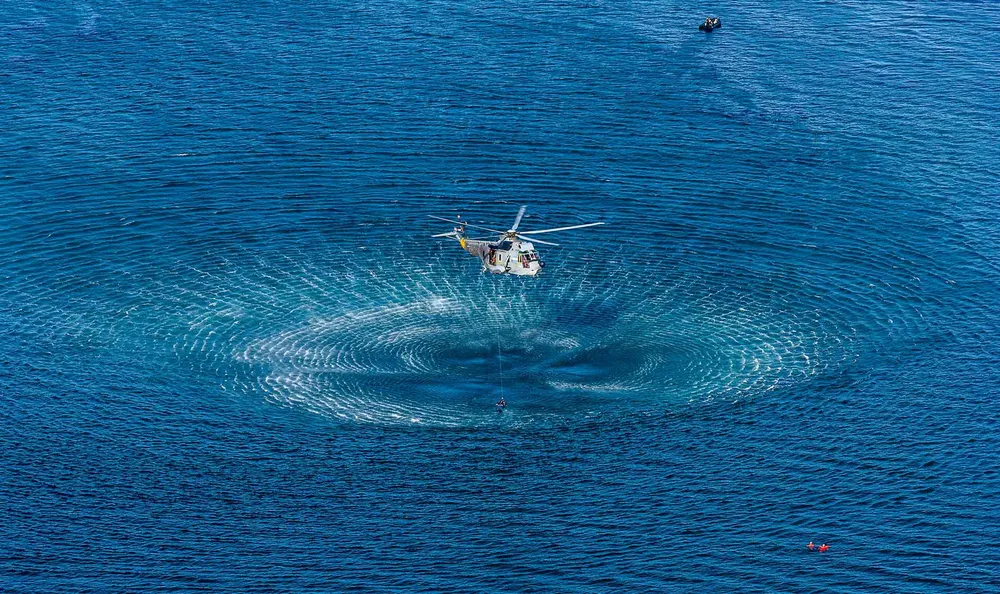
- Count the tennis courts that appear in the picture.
none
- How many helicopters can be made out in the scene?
1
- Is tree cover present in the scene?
No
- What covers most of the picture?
water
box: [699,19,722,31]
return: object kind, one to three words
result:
boat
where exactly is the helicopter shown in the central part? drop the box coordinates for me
[429,204,604,398]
